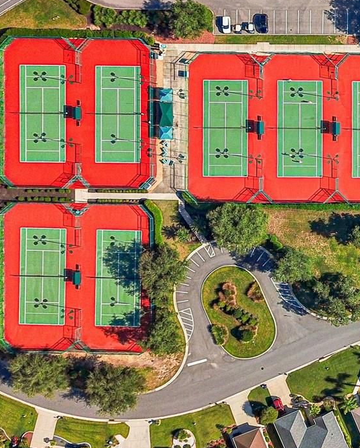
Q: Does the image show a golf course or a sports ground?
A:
sports ground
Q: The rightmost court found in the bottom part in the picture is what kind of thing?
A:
tennis court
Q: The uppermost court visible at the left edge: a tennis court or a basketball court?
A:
tennis court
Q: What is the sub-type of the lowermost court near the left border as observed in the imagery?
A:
tennis court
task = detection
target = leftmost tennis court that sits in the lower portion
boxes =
[4,204,79,353]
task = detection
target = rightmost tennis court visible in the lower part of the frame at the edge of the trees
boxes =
[77,204,152,353]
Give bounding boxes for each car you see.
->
[272,393,285,414]
[222,15,232,34]
[258,13,268,32]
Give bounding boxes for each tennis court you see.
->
[77,204,152,353]
[4,204,79,353]
[188,54,261,202]
[77,38,157,187]
[261,54,337,202]
[4,38,79,187]
[337,54,360,202]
